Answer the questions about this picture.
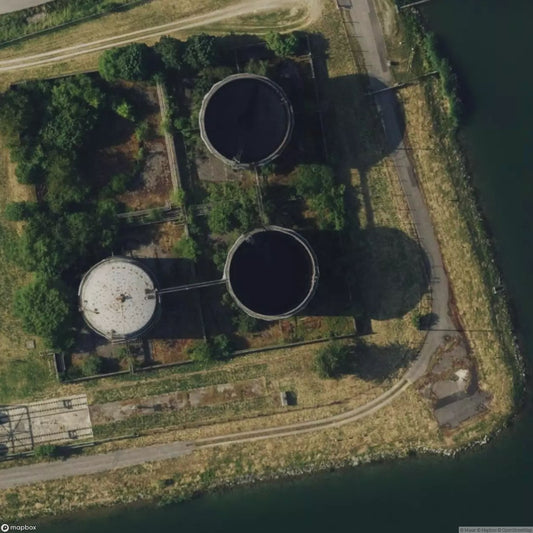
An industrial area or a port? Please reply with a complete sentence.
It's an industrial area.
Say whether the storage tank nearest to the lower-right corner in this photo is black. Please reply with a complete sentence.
Yes, the storage tank nearest to the lower-right corner is indeed black.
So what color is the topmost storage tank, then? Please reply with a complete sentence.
The topmost storage tank is black.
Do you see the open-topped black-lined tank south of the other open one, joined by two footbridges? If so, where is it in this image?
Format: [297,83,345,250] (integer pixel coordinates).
[224,225,319,321]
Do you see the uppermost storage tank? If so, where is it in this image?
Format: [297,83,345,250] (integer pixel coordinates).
[198,72,294,168]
